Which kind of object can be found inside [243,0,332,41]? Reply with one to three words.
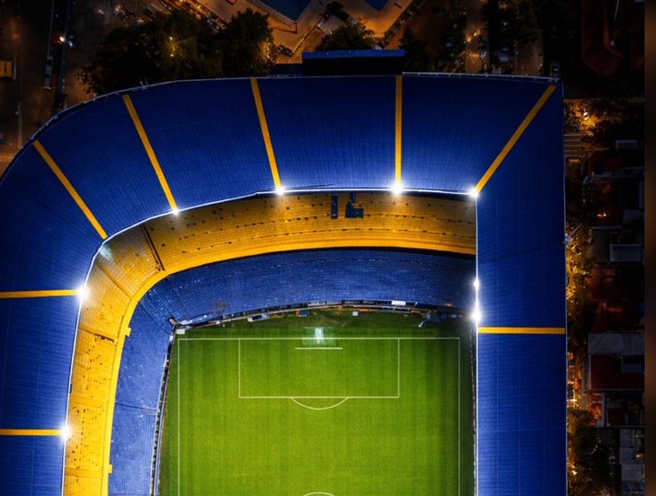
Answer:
building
